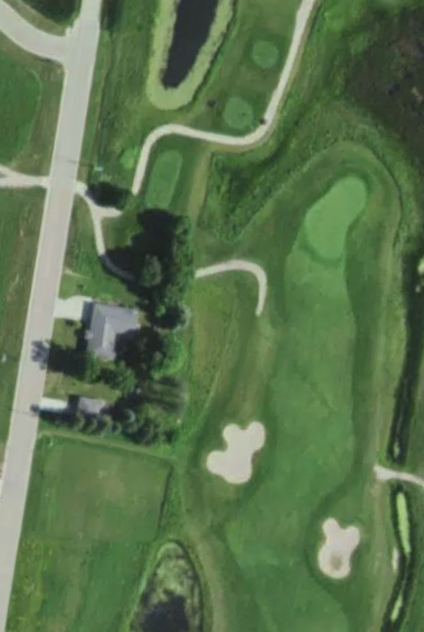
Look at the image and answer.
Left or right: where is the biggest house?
left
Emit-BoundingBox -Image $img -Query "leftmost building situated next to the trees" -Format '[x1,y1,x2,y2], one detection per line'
[76,398,105,416]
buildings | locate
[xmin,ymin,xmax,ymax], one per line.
[76,398,105,416]
[85,299,144,360]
